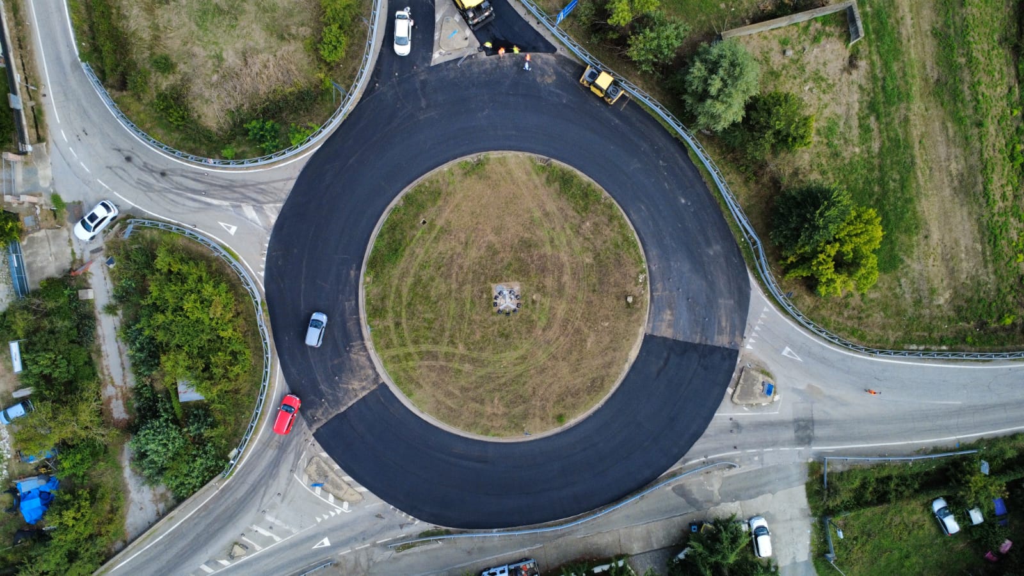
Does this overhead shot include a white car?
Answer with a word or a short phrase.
Yes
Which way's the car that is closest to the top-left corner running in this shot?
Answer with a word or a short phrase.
diagonally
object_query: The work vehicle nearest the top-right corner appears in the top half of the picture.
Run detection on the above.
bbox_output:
[577,67,626,106]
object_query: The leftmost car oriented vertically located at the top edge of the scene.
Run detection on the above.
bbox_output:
[392,10,412,54]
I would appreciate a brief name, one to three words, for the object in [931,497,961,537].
car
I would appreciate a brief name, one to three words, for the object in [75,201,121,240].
car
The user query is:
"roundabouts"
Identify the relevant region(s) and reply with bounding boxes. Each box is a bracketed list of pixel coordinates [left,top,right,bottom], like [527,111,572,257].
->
[263,0,752,529]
